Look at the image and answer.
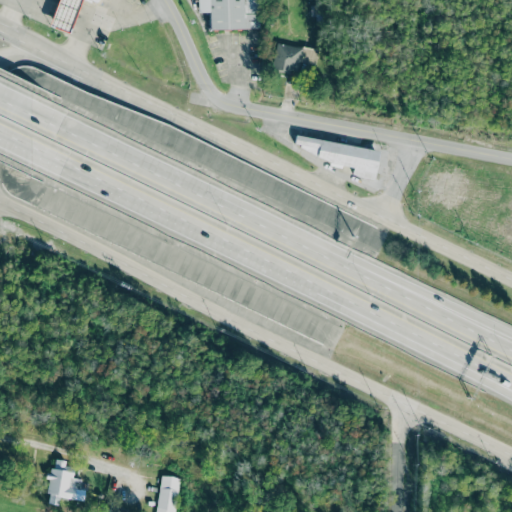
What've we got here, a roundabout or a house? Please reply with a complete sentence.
This aerial view contains a house.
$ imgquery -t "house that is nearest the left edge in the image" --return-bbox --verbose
[45,458,80,500]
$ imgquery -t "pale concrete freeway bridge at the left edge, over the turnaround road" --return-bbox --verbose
[0,68,72,181]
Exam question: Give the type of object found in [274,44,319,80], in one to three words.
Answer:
house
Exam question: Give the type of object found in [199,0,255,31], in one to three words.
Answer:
building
